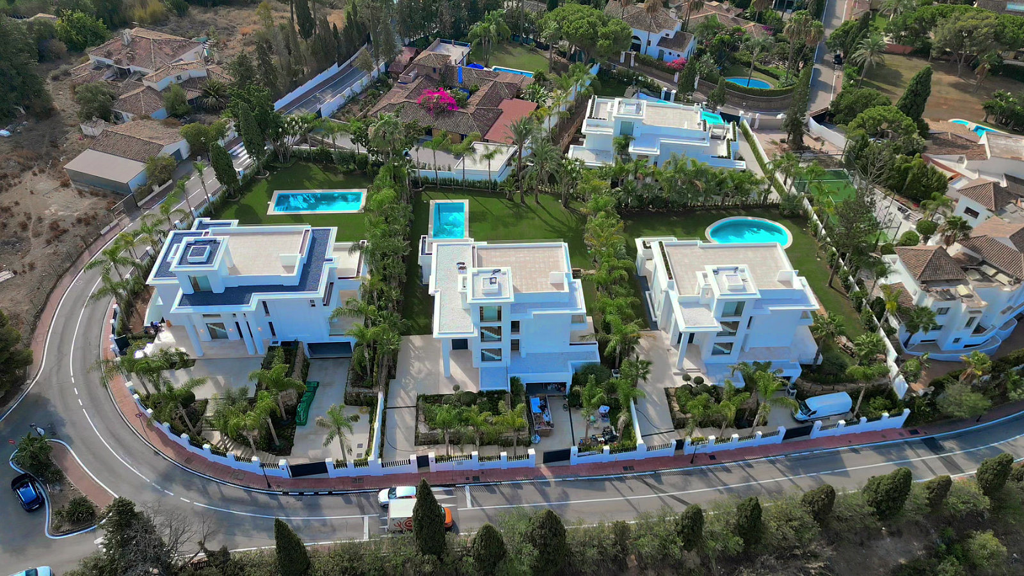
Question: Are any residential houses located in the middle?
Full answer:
Yes, in the middle there is a residential house.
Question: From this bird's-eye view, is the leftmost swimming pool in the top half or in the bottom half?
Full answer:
The leftmost swimming pool is in the top half of the image.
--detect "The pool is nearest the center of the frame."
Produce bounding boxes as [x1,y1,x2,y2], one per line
[428,198,469,237]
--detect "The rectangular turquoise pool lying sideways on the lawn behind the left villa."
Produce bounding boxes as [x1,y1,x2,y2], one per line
[267,187,367,214]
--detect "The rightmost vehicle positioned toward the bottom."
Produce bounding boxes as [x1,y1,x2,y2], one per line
[795,393,860,424]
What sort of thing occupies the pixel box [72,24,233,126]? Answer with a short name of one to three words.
house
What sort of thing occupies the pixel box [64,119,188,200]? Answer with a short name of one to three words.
shed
